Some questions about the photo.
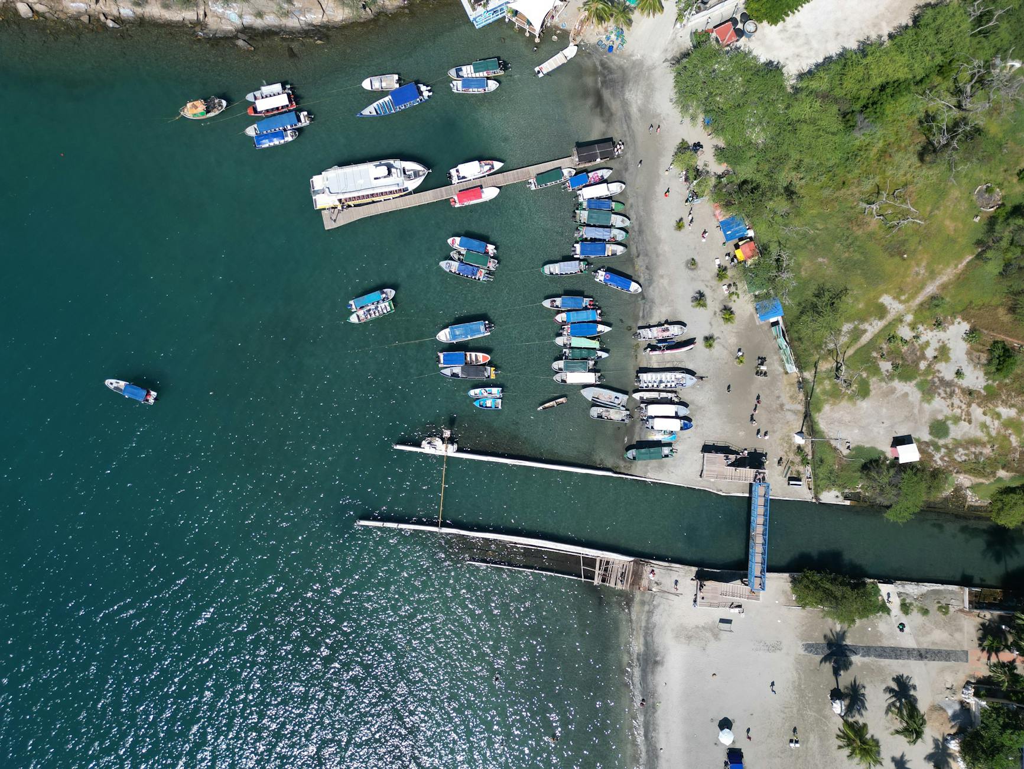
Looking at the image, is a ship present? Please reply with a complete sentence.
Yes, you can see a ship in this photo.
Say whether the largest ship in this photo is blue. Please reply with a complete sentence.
No, the largest ship is white.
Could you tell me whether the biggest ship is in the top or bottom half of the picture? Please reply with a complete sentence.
You can find the biggest ship in the top half.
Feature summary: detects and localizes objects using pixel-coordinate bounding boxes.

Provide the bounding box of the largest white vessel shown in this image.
[311,158,433,210]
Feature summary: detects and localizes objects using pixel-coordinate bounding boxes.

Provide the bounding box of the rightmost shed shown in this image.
[890,443,919,463]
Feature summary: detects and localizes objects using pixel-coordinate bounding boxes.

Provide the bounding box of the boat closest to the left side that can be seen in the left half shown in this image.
[105,380,160,404]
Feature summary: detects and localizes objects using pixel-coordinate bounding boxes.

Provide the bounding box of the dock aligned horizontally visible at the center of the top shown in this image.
[322,150,610,230]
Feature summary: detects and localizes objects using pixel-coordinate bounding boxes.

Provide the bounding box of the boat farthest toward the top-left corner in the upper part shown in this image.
[179,98,228,115]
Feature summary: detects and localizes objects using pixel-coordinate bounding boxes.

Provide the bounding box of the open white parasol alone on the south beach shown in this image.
[716,726,732,742]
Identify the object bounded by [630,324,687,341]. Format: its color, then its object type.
white boat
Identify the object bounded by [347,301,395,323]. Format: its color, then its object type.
white boat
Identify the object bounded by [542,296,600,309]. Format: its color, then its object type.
blue boat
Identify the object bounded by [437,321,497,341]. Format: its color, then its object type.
blue boat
